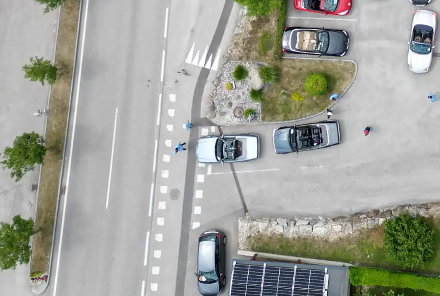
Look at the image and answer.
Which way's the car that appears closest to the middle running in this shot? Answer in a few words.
horizontally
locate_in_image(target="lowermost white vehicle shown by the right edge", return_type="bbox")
[405,9,438,73]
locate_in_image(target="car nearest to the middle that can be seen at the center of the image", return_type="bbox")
[196,131,260,166]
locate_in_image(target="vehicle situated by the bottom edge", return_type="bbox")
[191,230,229,296]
